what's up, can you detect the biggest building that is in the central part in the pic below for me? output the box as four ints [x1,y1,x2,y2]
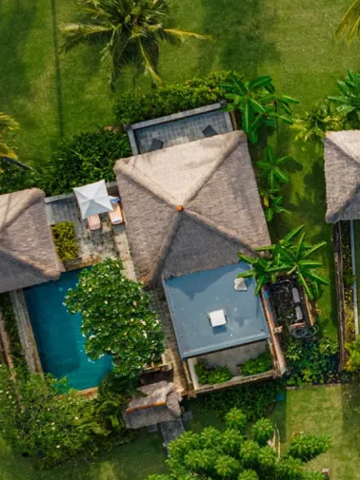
[117,131,294,402]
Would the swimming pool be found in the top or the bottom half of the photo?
bottom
